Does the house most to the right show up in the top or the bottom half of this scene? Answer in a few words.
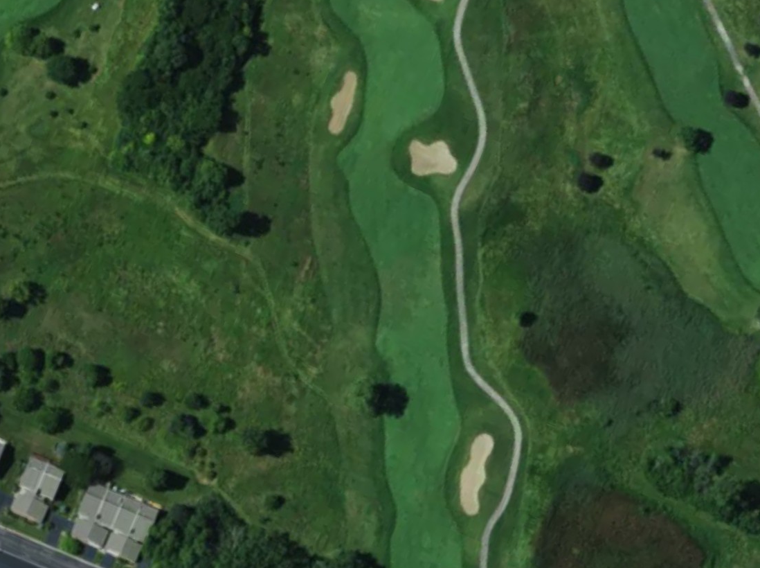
bottom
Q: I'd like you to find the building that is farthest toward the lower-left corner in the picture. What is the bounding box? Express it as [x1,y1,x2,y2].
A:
[9,455,66,524]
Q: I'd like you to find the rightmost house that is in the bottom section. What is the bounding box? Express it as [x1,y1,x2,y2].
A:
[71,486,160,563]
